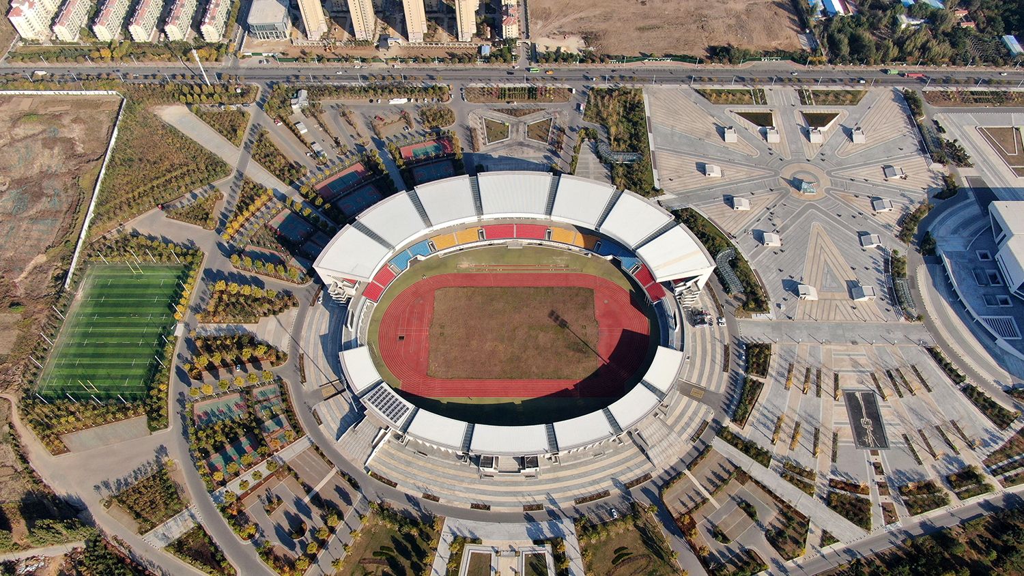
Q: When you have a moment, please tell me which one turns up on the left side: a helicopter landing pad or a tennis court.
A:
tennis court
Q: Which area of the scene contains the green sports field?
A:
left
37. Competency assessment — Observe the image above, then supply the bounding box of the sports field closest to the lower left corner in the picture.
[36,262,187,402]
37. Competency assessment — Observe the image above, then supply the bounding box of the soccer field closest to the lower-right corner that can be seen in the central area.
[427,287,599,380]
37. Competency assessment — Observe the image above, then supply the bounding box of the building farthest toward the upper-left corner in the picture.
[1,0,57,41]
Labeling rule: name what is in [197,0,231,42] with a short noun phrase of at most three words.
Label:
building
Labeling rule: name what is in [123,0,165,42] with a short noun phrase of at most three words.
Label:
building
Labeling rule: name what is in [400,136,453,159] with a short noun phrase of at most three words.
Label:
tennis court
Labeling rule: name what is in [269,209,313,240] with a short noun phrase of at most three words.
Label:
basketball court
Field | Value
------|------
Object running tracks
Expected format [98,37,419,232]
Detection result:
[376,273,651,398]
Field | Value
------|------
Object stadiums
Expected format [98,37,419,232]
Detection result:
[313,170,715,476]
